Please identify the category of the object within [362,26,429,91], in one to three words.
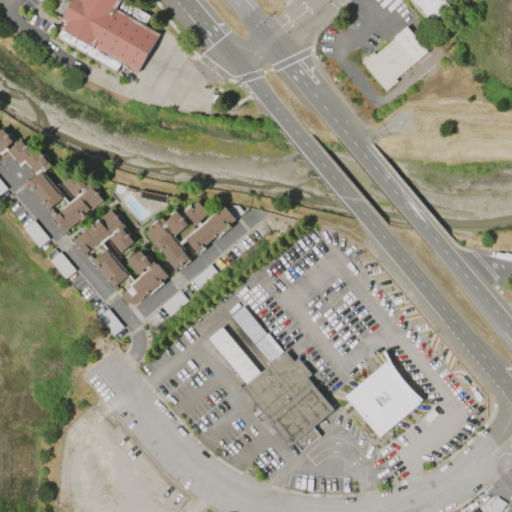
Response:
building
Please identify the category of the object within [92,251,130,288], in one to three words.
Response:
house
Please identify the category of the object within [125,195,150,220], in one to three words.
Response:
swimming pool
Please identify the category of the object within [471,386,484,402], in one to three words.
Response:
vehicle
